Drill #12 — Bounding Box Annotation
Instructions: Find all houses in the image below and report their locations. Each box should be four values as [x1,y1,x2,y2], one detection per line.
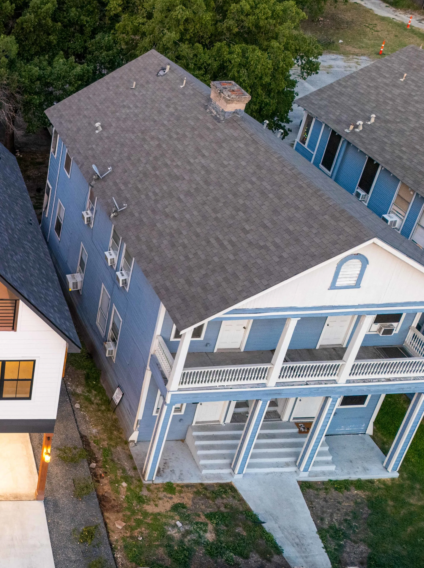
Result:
[43,49,424,487]
[0,142,85,502]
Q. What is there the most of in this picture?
buildings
